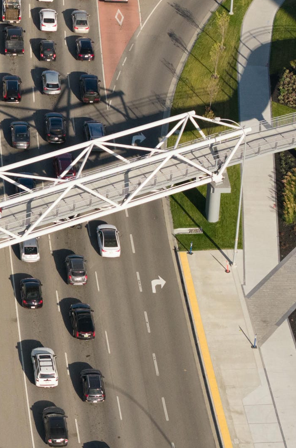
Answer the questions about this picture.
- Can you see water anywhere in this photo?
No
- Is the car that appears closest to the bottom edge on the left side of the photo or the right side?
left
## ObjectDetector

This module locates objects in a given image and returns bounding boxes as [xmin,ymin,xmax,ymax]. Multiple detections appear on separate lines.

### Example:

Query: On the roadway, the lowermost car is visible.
[42,409,70,448]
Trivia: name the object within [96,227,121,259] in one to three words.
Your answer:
car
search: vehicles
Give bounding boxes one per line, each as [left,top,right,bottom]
[75,40,95,64]
[8,124,30,152]
[64,255,90,290]
[38,41,57,66]
[41,73,61,98]
[42,409,70,448]
[70,306,95,343]
[53,154,76,184]
[79,77,101,104]
[19,234,42,265]
[39,10,58,34]
[1,77,23,104]
[2,0,22,23]
[79,369,106,408]
[44,116,67,144]
[96,227,121,259]
[31,351,58,391]
[20,280,44,313]
[71,11,91,35]
[3,26,25,57]
[59,215,80,232]
[82,123,106,154]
